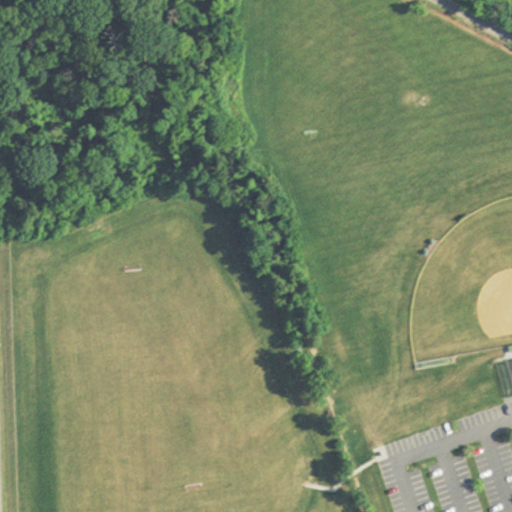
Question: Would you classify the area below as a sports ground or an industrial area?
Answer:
sports ground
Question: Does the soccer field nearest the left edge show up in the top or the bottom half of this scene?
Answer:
bottom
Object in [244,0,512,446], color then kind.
green sports field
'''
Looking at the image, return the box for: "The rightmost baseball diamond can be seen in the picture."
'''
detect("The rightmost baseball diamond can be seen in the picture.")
[410,198,512,363]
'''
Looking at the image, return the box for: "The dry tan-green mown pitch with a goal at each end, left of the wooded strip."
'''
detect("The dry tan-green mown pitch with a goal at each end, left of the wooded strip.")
[52,197,322,512]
